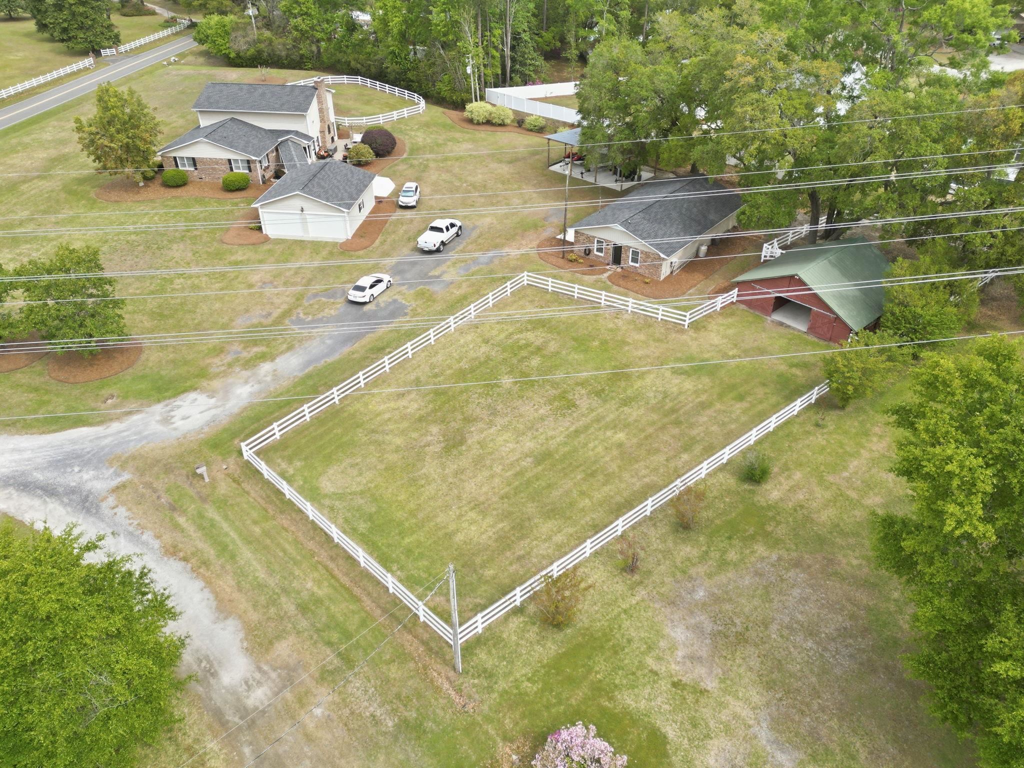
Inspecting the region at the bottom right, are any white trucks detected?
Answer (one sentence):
No, no white truck is visible at the bottom right.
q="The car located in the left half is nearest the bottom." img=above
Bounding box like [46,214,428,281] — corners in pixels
[350,275,391,303]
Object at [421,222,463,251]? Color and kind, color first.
white truck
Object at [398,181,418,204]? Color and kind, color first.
white car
